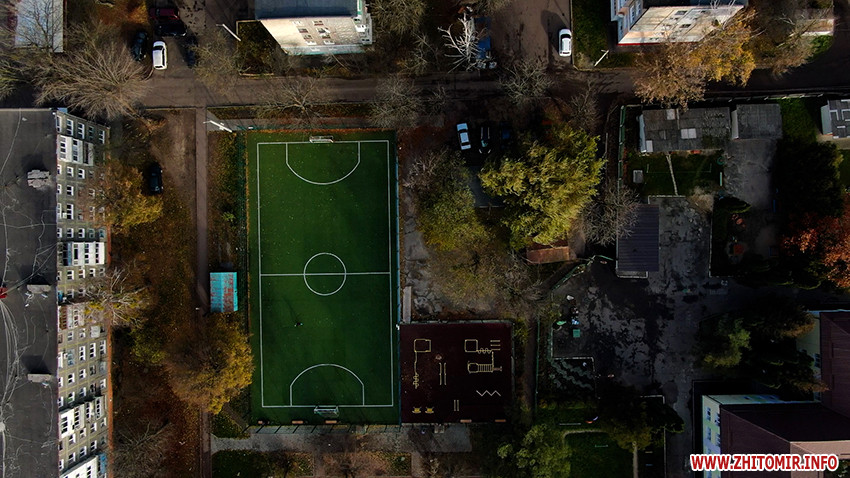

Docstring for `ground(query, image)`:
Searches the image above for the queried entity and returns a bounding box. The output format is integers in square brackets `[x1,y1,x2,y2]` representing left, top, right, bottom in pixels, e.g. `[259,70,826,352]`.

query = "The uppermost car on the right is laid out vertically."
[558,28,573,57]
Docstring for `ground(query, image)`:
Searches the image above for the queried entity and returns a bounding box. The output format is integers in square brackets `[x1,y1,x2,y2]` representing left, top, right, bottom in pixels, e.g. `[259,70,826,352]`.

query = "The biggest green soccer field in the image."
[247,129,400,425]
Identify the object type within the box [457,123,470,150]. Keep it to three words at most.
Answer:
vehicle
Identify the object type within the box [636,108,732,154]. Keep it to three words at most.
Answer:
building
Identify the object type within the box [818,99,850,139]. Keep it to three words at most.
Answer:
building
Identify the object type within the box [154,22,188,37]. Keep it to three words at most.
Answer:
car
